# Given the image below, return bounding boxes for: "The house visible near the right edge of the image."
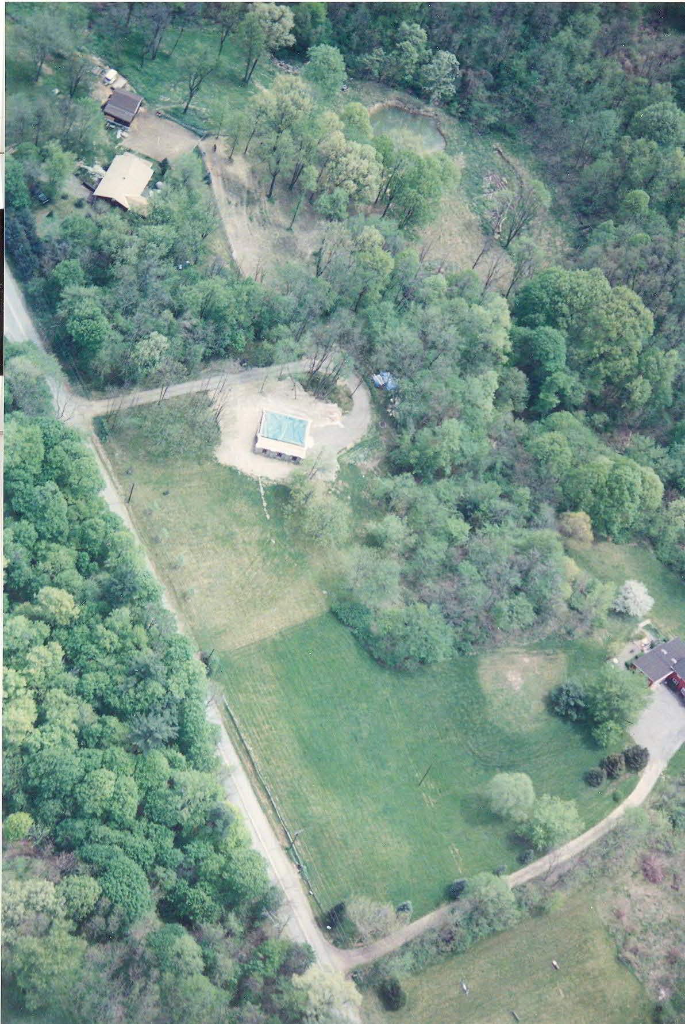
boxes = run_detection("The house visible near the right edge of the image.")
[635,633,685,692]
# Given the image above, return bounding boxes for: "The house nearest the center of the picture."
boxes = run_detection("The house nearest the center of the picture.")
[254,409,313,464]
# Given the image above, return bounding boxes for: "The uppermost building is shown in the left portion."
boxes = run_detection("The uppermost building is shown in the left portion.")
[100,87,144,134]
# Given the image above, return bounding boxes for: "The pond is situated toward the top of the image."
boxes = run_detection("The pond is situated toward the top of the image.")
[371,109,444,155]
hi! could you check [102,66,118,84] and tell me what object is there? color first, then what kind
white vehicle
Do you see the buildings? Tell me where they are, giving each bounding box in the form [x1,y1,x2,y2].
[254,409,313,464]
[94,152,151,214]
[100,87,144,134]
[635,633,685,692]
